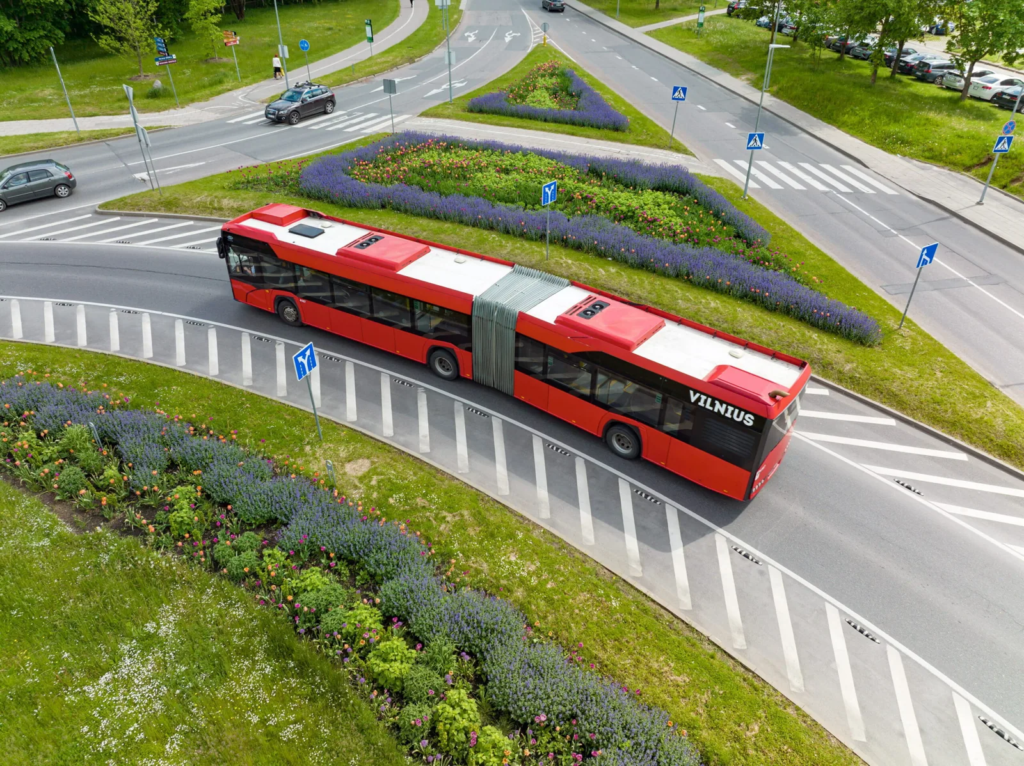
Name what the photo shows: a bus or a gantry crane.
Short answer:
bus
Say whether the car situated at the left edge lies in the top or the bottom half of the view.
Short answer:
top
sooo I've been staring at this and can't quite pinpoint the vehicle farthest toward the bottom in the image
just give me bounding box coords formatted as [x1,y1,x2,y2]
[213,198,814,503]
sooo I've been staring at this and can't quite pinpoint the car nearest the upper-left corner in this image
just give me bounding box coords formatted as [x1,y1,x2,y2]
[0,159,79,208]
